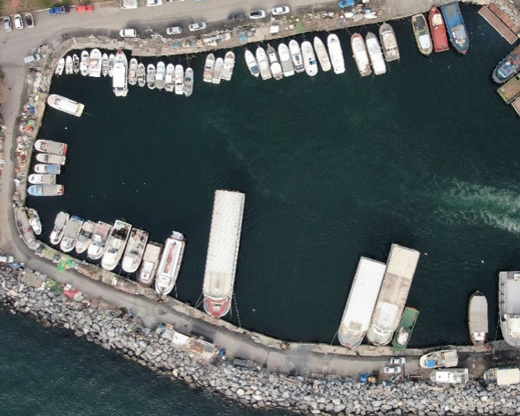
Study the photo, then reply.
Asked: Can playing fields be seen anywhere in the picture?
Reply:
No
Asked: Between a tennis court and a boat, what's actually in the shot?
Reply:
boat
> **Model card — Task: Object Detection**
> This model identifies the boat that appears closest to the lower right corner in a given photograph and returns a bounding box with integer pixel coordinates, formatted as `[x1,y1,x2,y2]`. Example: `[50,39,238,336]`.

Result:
[484,366,520,384]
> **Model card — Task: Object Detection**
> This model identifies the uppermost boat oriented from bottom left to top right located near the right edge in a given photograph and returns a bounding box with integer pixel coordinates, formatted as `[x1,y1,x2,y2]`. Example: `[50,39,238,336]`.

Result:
[492,42,520,84]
